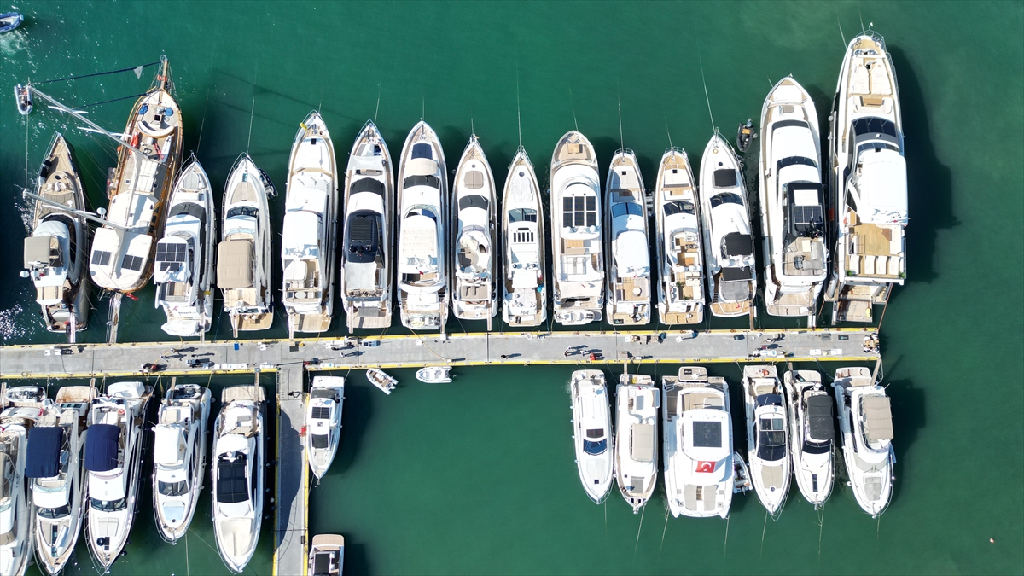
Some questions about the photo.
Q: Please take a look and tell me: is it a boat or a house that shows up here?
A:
boat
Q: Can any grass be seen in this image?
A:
No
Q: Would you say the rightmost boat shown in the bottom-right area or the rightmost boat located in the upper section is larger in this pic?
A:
the rightmost boat located in the upper section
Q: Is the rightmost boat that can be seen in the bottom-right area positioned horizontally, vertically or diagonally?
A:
vertically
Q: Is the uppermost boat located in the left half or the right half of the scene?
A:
left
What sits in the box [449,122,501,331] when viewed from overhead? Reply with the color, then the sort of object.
white boat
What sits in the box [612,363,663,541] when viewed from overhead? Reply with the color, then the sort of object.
white boat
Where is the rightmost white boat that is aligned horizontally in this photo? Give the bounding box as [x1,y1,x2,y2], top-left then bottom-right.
[554,310,595,324]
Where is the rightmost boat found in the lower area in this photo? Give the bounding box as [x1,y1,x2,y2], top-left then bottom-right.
[818,362,898,533]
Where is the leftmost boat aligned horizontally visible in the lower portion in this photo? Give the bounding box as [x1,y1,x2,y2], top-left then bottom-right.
[6,385,47,402]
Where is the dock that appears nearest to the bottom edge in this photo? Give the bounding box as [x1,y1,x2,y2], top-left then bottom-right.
[273,358,311,576]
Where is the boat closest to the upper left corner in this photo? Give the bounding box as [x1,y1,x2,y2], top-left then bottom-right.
[0,8,26,32]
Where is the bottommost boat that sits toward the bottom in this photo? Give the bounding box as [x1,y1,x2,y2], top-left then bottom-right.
[308,535,348,576]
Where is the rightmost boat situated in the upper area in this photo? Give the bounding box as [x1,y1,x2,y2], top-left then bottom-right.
[819,7,922,329]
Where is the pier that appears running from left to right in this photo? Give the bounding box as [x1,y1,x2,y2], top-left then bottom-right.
[0,327,879,378]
